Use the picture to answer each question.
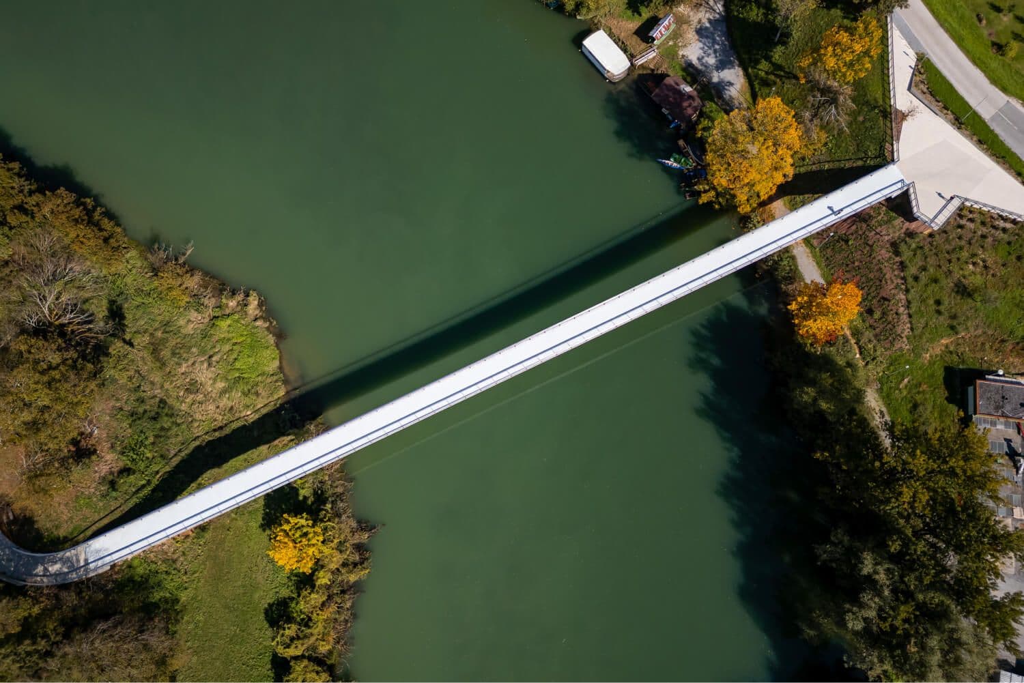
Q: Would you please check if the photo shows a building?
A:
Yes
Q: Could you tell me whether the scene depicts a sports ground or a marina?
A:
marina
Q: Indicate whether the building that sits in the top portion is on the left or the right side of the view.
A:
right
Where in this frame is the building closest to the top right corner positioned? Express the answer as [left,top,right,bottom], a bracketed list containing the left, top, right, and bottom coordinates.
[639,71,702,128]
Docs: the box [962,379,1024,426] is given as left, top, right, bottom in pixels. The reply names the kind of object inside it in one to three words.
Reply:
house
